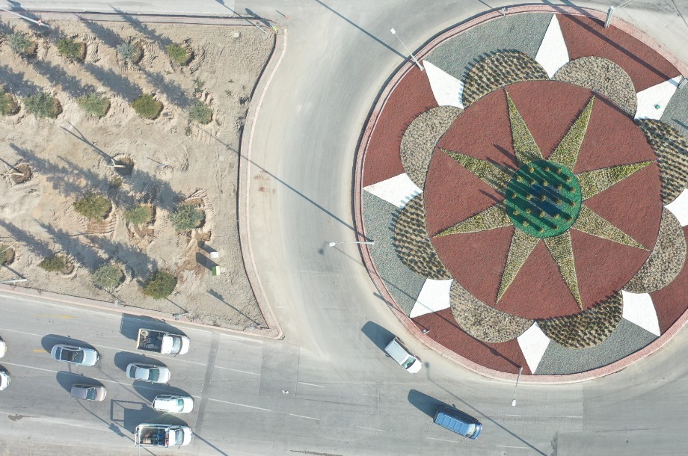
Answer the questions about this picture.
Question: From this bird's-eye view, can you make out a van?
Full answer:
Yes, this view includes a van.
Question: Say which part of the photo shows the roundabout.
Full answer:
Look in the right portion of the view to spot the roundabout.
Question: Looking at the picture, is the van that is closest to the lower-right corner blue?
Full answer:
Yes, the van that is closest to the lower-right corner is blue.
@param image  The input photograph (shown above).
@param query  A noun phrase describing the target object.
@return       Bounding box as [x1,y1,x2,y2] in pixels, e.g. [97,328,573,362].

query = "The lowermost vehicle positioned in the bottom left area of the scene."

[135,423,193,448]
